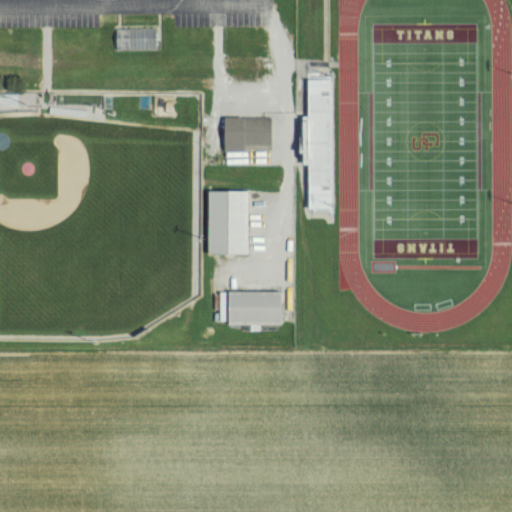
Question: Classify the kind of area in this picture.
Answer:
sports ground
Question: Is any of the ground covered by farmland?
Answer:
Yes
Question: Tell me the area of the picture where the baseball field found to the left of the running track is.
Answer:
left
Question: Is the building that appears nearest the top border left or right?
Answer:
left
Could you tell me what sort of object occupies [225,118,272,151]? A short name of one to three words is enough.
shed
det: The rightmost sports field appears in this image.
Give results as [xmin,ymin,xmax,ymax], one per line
[358,0,492,312]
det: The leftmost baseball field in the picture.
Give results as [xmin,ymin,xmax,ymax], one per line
[0,116,199,338]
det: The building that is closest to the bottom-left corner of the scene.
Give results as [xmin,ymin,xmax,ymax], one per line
[229,292,282,332]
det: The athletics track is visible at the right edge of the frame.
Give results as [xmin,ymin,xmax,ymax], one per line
[340,0,510,332]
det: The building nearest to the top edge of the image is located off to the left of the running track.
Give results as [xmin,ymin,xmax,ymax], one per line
[117,28,157,50]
